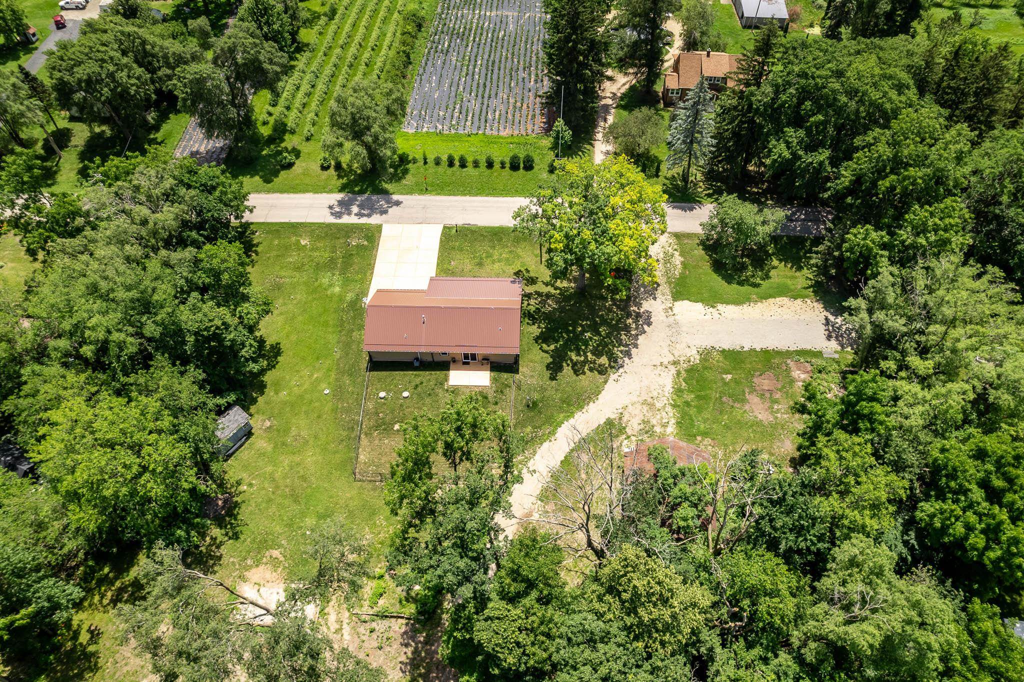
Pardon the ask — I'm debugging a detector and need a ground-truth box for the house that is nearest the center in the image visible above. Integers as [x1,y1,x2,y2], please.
[363,277,522,365]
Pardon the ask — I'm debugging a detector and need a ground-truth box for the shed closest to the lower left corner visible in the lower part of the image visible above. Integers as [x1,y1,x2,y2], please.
[206,401,255,447]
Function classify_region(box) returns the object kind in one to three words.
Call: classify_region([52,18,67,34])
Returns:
car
